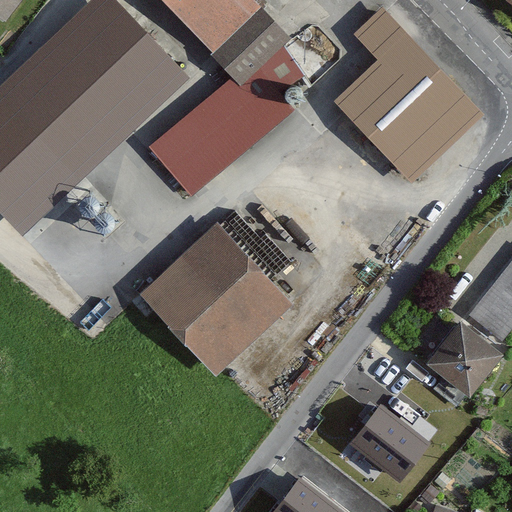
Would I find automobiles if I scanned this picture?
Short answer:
Yes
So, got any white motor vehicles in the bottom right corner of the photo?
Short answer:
Yes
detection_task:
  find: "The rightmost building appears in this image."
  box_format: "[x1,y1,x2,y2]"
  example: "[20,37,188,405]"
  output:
[469,258,512,341]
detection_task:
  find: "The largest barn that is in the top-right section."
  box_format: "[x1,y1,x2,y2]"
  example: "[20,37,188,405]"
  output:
[337,10,484,184]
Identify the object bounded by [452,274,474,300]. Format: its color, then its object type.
white vehicle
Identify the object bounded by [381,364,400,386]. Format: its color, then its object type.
white car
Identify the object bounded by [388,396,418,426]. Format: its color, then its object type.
white camper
